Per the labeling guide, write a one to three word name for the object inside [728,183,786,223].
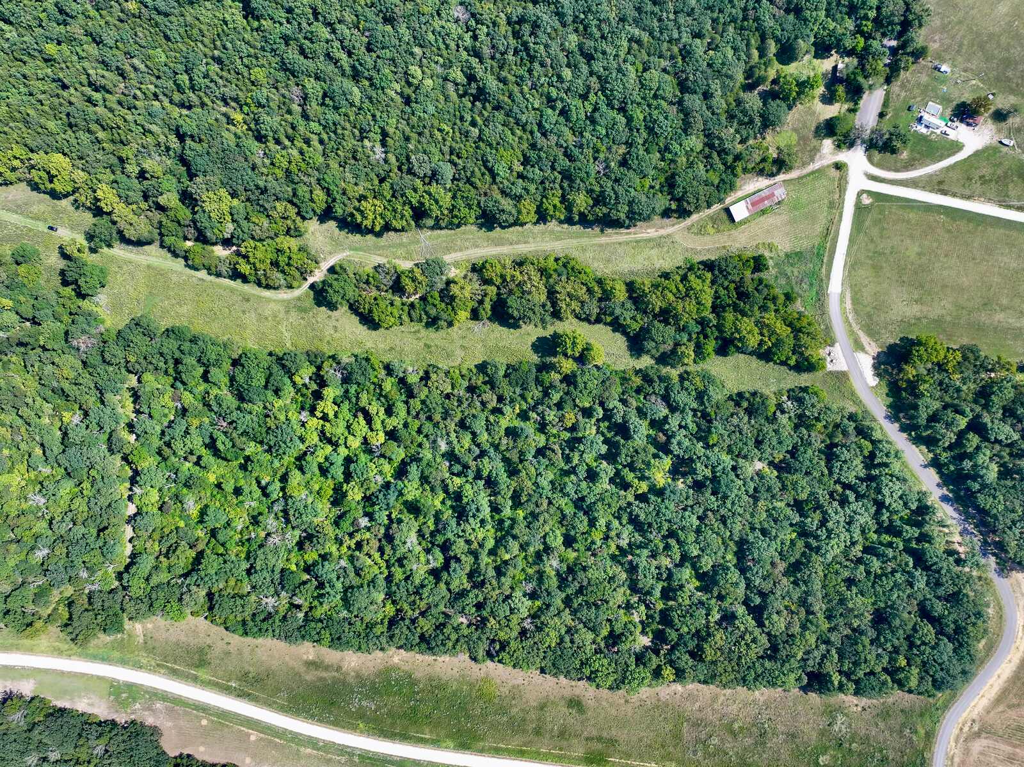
barn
